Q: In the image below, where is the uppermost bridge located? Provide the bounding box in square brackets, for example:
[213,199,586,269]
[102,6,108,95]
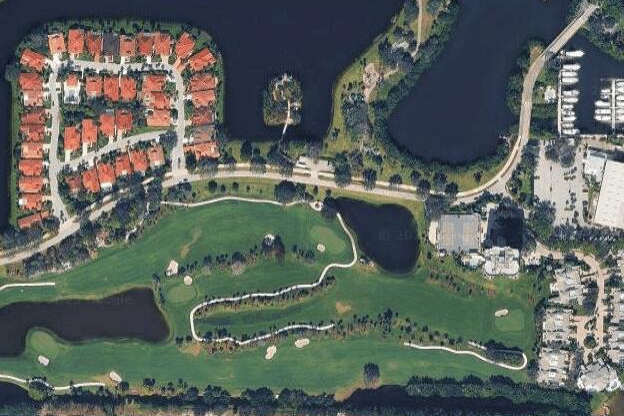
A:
[543,4,593,55]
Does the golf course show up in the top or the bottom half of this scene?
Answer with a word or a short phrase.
bottom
